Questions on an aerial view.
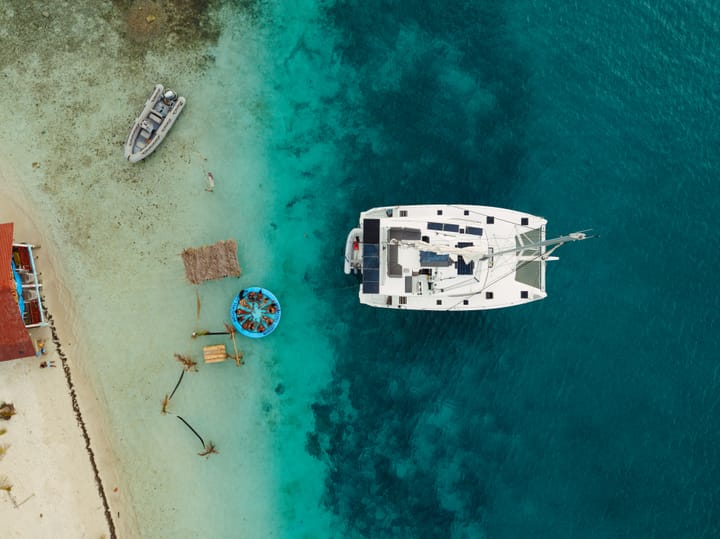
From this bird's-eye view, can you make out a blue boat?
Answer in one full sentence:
No, the picture doesn't show any blue boat.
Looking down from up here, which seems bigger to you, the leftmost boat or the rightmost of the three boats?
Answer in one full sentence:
It is the rightmost of the three boats that is larger, not the leftmost boat.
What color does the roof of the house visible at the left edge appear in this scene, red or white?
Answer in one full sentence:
In this view, the roof of the house visible at the left edge is red.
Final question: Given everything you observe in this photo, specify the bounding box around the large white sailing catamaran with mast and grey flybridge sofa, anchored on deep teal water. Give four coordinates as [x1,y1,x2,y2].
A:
[361,205,602,311]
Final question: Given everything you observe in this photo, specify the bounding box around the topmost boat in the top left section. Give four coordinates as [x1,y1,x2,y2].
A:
[125,82,186,169]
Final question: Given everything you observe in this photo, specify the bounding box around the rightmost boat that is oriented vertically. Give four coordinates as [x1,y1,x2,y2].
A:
[345,226,366,276]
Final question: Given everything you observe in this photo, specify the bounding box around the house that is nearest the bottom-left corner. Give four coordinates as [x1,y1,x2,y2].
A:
[0,222,56,360]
